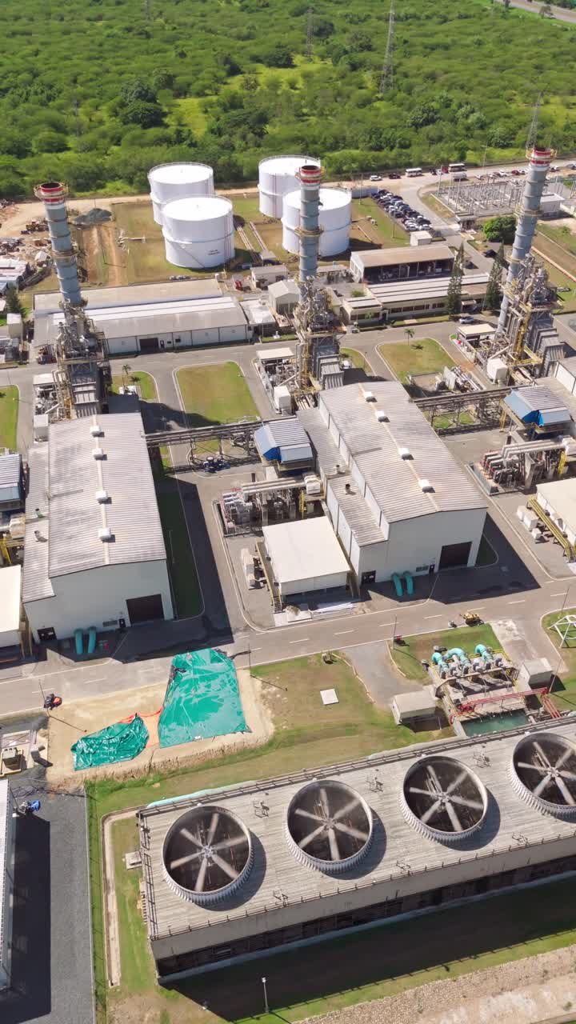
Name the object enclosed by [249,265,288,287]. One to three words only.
shed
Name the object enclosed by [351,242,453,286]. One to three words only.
building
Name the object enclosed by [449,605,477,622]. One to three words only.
work vehicle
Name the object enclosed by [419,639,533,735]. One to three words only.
building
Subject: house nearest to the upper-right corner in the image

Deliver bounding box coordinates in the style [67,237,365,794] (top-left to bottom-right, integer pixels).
[536,193,566,214]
